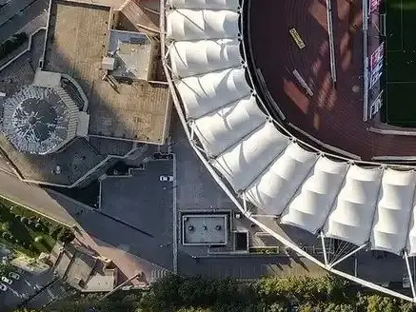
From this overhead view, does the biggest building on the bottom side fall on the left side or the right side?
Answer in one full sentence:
The biggest building on the bottom side is on the left side of the image.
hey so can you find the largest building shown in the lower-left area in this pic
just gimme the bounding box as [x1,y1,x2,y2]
[52,227,124,291]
